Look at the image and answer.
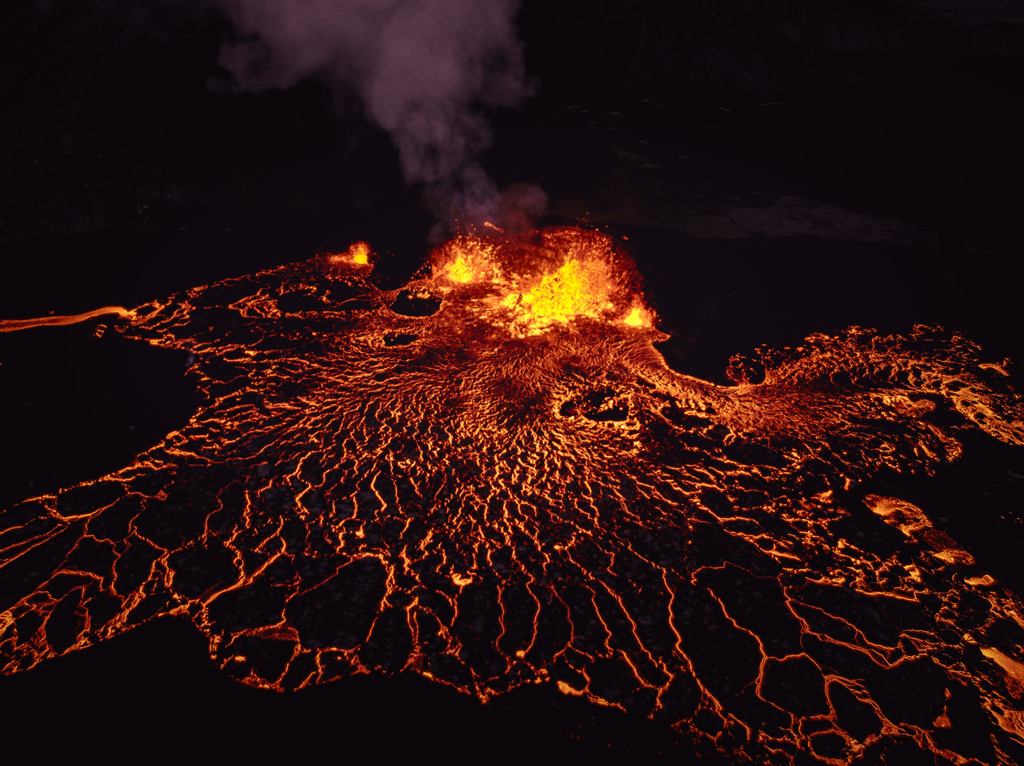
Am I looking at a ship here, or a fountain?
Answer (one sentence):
The image shows a fountain.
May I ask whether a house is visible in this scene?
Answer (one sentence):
No, there appears to be no house in this shot.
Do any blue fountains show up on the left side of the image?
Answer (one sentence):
No, no blue fountain can be made out on the left side of the image.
